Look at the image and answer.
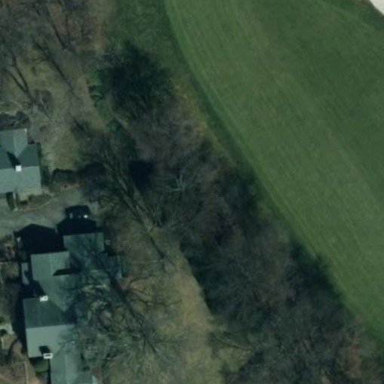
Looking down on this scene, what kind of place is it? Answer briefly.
golf course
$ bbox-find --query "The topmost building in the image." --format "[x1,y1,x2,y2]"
[0,126,44,200]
